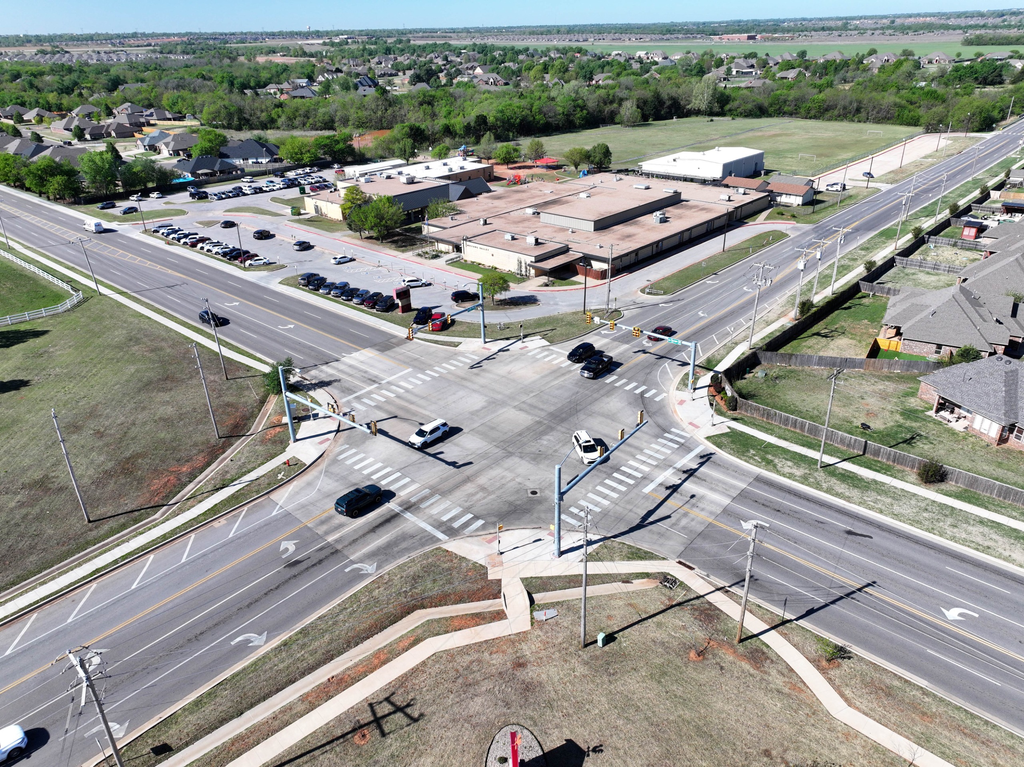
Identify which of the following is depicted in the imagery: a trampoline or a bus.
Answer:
bus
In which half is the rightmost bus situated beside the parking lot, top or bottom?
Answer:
top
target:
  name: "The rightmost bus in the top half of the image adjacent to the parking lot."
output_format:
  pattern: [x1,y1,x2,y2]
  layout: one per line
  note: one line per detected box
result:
[851,137,986,184]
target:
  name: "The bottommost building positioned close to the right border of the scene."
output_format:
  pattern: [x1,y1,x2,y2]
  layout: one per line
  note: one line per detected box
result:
[886,355,1024,466]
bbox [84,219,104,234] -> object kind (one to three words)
vehicle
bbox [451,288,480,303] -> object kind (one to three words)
car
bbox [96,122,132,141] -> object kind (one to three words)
house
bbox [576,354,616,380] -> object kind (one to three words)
truck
